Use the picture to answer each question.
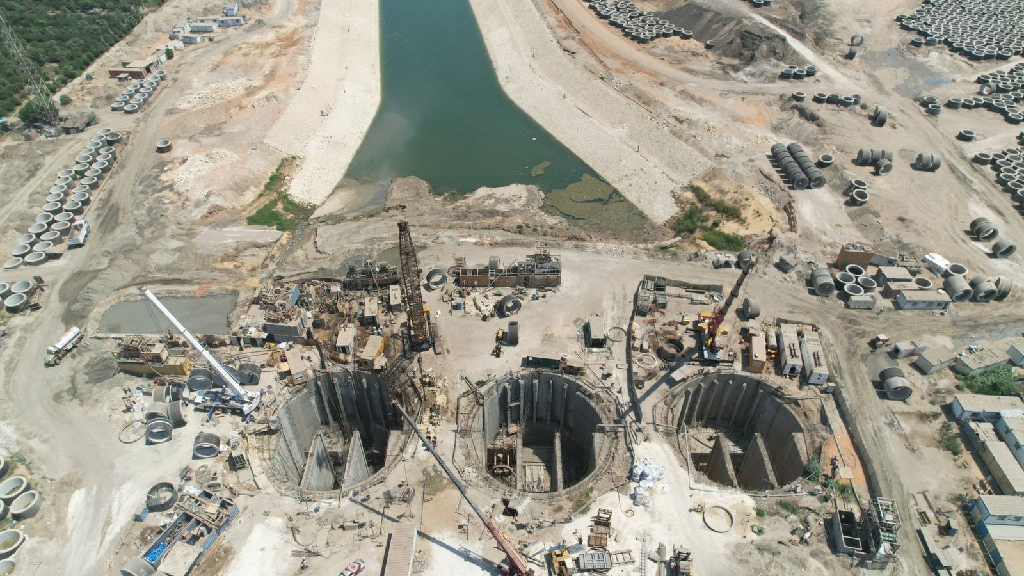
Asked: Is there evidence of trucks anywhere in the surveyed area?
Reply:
Yes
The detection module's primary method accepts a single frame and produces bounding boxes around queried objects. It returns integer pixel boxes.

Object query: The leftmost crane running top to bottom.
[399,220,441,428]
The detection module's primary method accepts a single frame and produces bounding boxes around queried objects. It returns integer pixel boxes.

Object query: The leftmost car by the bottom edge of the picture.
[337,555,369,576]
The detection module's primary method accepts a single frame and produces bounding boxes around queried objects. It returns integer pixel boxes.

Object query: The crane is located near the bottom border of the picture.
[390,400,554,576]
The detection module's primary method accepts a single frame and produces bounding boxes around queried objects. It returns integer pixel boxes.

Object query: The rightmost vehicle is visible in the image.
[870,330,894,349]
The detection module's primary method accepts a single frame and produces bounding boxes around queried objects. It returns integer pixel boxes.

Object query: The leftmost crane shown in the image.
[135,282,270,436]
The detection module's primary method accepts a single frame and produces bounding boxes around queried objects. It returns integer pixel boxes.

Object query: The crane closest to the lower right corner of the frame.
[680,256,756,378]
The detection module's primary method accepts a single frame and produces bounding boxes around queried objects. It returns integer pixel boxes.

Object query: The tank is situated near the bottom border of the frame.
[821,499,868,561]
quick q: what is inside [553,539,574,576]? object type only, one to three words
work vehicle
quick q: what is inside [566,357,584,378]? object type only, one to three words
shed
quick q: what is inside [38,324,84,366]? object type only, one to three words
truck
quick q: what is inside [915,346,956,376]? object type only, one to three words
building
